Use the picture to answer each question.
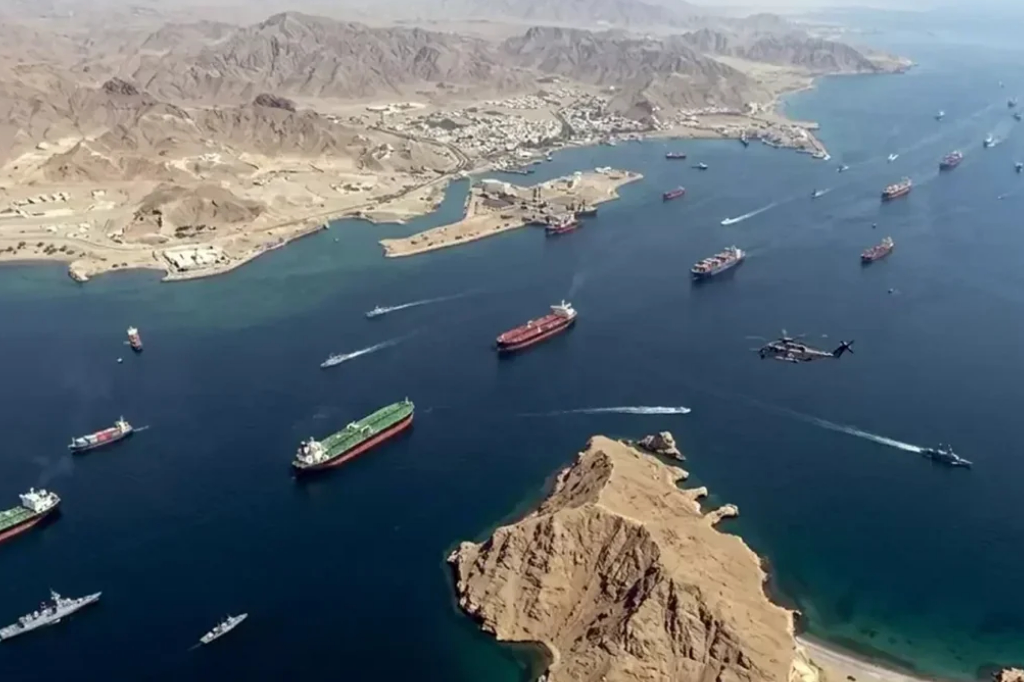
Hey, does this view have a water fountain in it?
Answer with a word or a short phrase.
No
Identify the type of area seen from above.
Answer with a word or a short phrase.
port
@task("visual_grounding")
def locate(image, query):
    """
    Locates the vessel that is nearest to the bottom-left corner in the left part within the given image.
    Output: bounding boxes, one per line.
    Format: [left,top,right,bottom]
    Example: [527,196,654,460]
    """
[0,591,98,640]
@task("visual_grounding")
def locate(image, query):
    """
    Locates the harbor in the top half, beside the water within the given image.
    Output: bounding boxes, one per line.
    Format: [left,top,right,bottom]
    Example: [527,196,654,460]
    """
[380,170,643,257]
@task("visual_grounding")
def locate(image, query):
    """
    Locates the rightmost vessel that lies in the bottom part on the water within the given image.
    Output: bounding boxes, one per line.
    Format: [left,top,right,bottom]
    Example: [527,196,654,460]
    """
[921,449,970,467]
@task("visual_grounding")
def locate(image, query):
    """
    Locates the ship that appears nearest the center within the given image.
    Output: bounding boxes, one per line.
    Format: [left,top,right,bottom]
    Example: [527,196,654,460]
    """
[498,305,578,347]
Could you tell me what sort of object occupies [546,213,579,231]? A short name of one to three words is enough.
ship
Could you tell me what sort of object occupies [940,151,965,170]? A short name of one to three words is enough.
ship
